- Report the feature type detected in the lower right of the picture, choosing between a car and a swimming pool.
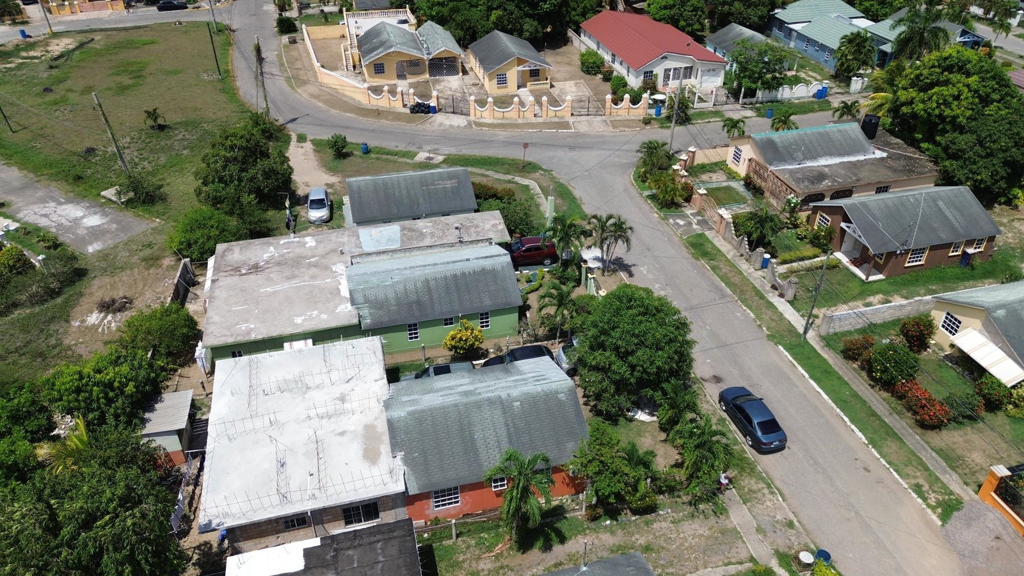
car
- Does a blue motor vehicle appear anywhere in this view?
Yes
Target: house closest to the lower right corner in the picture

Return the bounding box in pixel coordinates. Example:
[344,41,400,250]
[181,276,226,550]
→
[930,281,1024,394]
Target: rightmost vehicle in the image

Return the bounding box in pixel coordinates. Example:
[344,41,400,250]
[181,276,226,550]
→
[720,389,789,453]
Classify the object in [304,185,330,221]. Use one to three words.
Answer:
car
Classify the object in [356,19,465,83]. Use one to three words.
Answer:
house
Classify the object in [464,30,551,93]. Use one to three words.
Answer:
house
